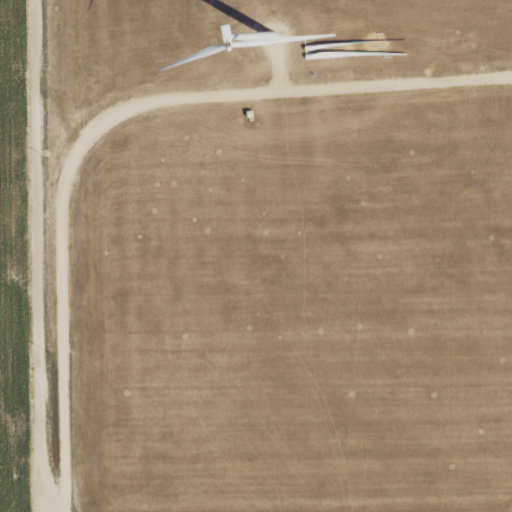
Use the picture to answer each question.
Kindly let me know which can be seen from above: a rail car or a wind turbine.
wind turbine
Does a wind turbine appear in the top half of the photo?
Yes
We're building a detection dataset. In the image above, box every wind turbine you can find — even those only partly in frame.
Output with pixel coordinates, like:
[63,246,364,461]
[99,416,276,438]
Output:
[162,24,336,70]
